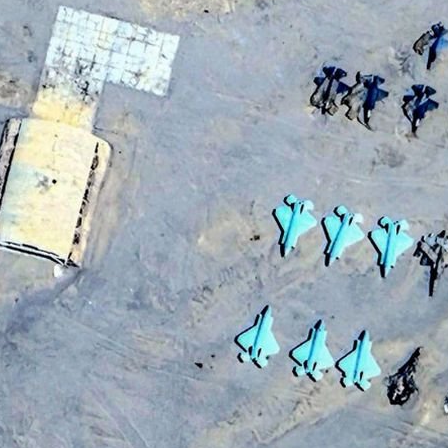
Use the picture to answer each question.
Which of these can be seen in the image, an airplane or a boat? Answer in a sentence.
It is an airplane that can be seen here.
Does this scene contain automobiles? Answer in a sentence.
No, there isn't any automobile down there.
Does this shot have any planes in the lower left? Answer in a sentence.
No, there is no plane in the lower left.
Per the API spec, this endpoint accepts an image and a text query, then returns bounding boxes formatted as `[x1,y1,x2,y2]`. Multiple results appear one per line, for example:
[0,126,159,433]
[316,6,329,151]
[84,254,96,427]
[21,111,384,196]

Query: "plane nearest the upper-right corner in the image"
[414,21,448,68]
